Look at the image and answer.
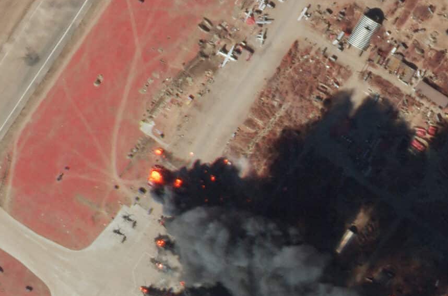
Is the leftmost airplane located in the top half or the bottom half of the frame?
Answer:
top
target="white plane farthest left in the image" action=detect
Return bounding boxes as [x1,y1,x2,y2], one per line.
[217,47,238,67]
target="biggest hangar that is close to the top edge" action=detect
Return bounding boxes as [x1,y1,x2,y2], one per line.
[348,13,380,50]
